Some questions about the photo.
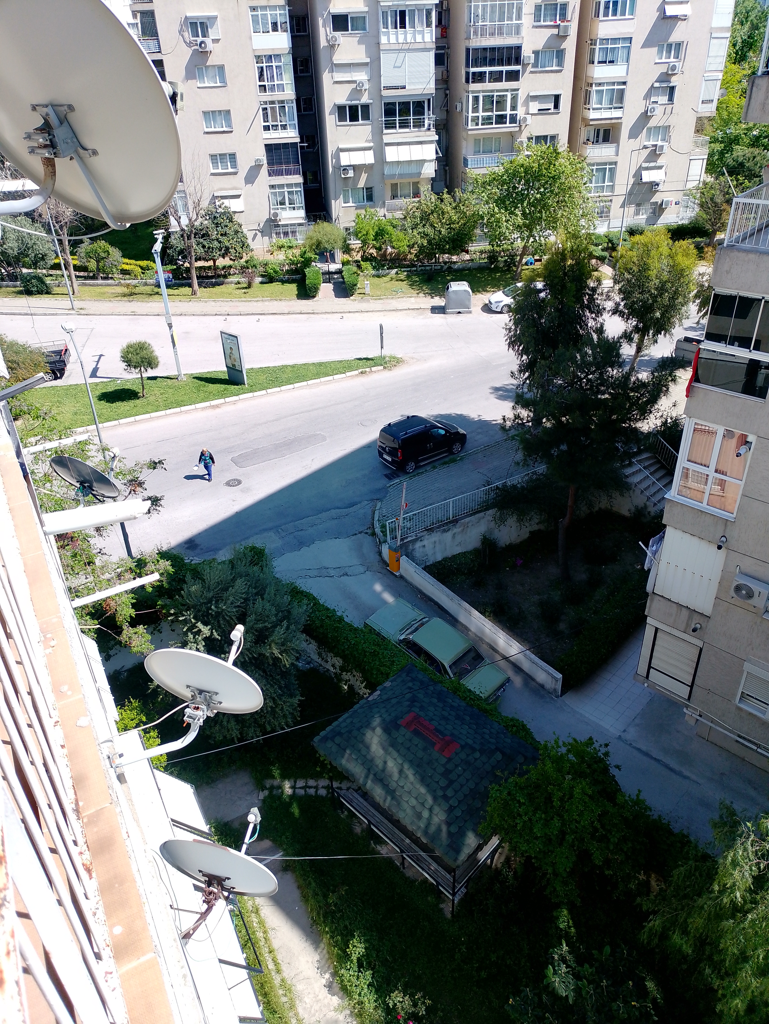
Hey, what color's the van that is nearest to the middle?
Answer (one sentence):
In this view, the van that is nearest to the middle is black.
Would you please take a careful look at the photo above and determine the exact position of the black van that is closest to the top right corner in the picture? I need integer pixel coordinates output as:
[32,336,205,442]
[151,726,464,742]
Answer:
[376,414,468,474]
